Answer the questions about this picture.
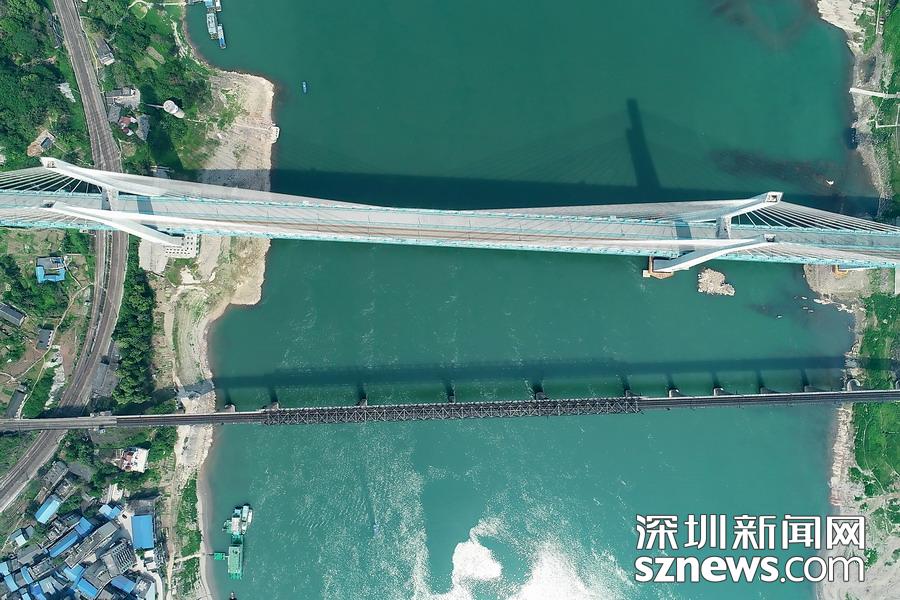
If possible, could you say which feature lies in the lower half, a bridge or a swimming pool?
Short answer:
bridge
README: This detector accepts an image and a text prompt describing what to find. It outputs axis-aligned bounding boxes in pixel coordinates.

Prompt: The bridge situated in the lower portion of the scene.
[0,368,900,432]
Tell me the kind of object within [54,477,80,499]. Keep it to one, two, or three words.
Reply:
house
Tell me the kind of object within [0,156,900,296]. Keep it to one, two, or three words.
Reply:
bridge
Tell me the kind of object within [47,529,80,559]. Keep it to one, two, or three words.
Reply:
shed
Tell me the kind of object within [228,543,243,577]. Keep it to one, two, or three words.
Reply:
ship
